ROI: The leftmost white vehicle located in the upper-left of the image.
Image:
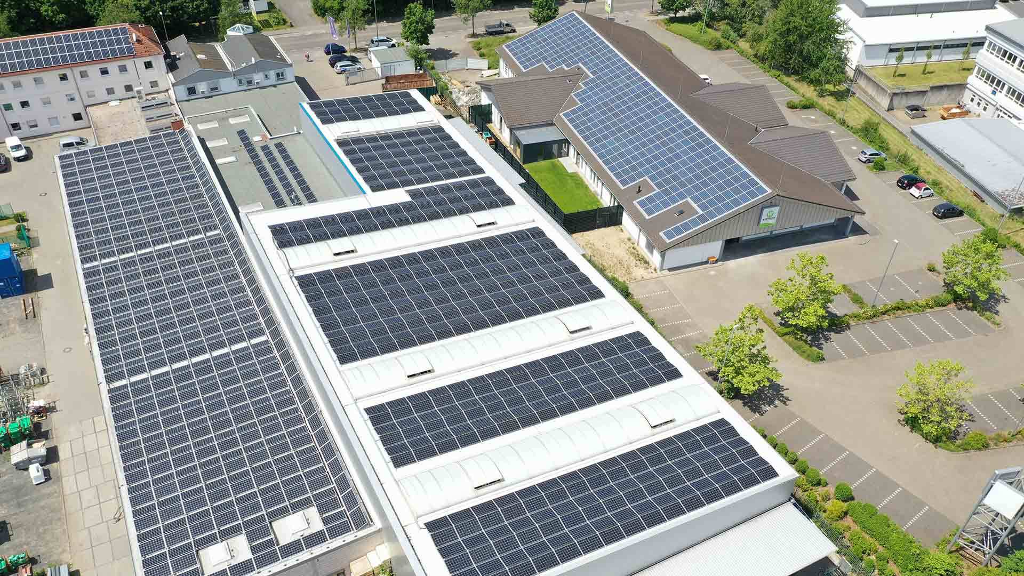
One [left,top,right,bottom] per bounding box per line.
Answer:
[3,134,27,160]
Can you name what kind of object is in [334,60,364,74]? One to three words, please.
car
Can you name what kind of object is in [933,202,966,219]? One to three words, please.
car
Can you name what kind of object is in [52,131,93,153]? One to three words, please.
vehicle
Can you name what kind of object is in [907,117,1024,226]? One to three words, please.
building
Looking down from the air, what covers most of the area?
buildings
